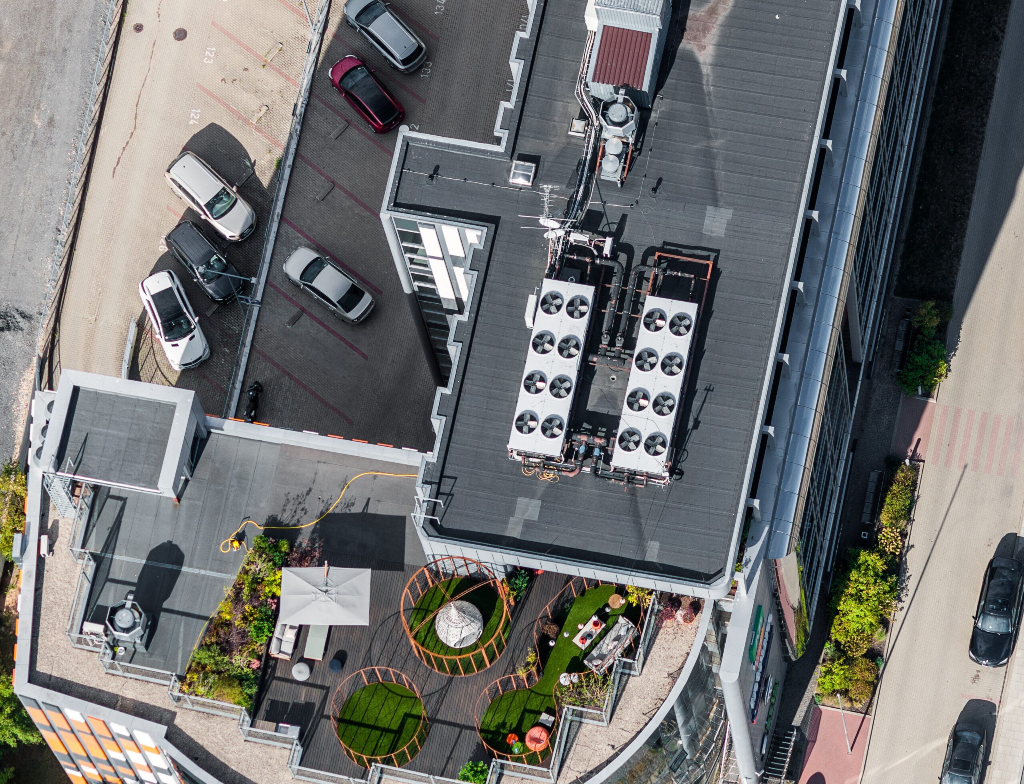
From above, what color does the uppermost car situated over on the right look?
black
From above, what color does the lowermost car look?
black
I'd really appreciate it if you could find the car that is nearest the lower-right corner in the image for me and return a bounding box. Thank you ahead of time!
[937,724,989,784]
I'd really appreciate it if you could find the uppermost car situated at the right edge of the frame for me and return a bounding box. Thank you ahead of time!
[969,557,1024,669]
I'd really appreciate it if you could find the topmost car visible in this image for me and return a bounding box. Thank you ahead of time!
[345,0,429,77]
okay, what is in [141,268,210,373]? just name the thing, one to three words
car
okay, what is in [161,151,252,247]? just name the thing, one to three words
car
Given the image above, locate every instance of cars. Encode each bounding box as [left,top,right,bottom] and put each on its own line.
[969,557,1024,669]
[161,151,252,247]
[328,55,405,136]
[141,268,210,373]
[280,248,377,326]
[160,219,241,309]
[937,724,989,784]
[345,0,429,77]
